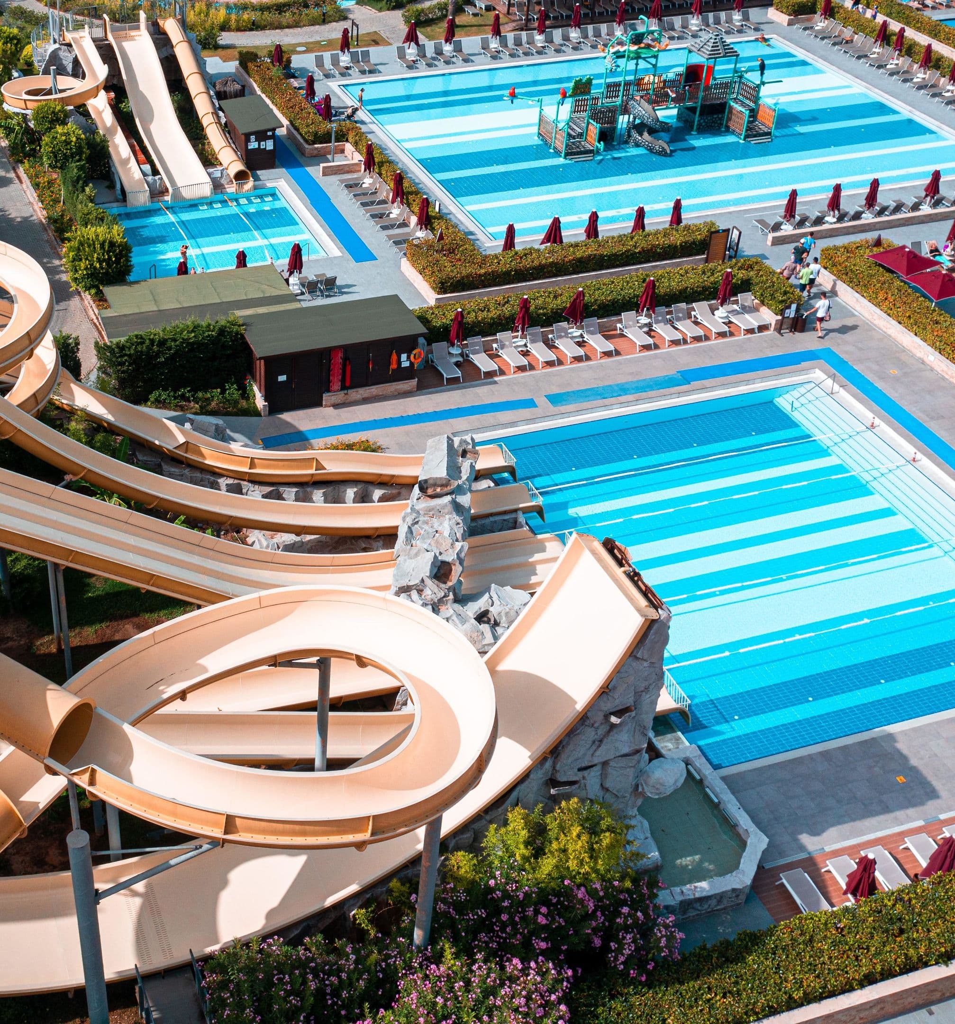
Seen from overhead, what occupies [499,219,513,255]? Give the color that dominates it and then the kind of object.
red umbrella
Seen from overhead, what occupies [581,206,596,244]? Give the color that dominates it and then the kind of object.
red umbrella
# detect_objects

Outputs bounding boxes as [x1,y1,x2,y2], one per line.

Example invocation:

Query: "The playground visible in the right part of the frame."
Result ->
[492,0,783,163]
